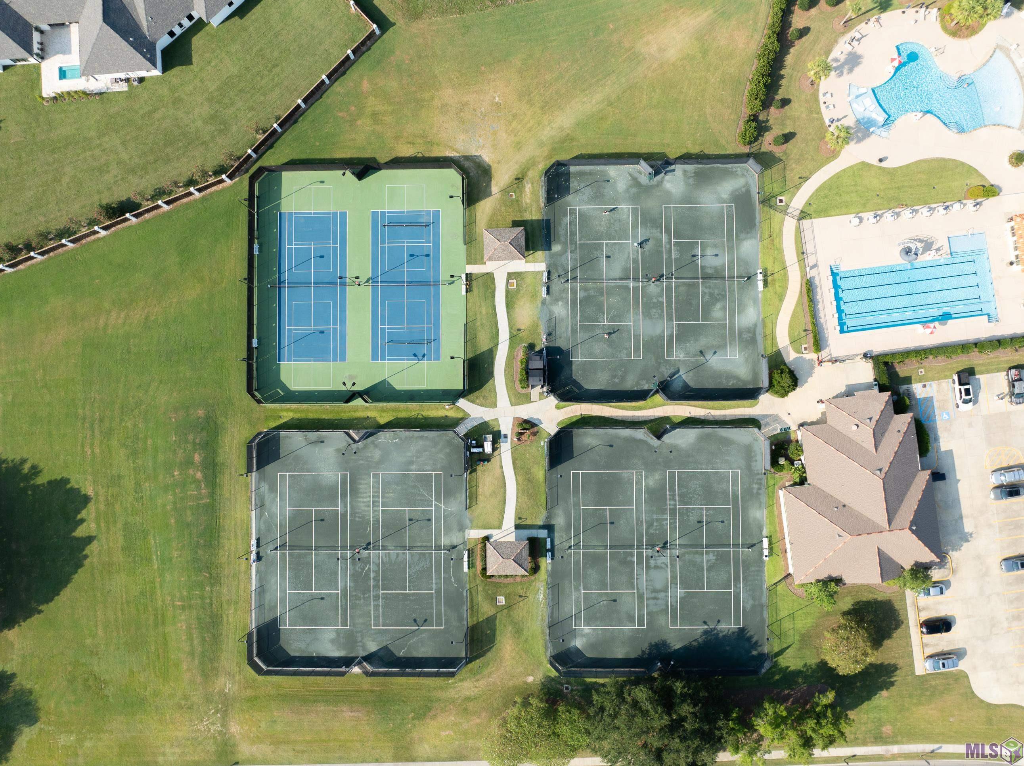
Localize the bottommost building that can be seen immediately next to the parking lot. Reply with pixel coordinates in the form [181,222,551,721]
[778,390,942,585]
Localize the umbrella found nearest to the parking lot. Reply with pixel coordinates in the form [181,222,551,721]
[919,322,936,336]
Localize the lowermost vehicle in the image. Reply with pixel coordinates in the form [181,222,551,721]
[926,656,962,674]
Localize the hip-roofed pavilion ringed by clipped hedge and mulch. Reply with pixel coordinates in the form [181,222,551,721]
[486,539,529,576]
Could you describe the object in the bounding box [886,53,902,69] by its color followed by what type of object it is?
white umbrella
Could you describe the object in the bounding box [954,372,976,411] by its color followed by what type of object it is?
white vehicle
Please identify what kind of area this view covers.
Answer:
sports ground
